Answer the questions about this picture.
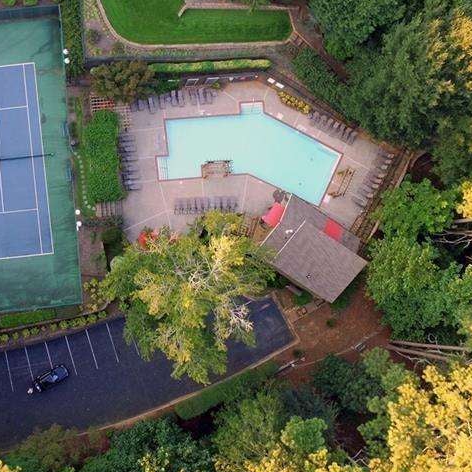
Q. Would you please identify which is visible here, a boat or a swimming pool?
swimming pool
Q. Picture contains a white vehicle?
No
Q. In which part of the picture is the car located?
bottom left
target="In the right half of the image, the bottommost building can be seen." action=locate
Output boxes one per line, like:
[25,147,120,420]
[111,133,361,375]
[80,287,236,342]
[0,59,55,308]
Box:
[260,193,371,304]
